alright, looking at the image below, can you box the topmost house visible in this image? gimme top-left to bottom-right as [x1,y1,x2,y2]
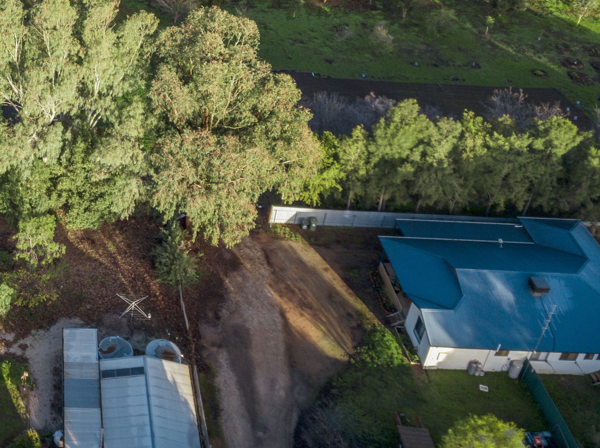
[372,216,600,376]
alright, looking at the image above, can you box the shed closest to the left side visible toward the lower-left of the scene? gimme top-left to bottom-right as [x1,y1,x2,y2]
[61,327,203,448]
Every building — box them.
[382,412,433,448]
[61,327,203,448]
[372,216,600,376]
